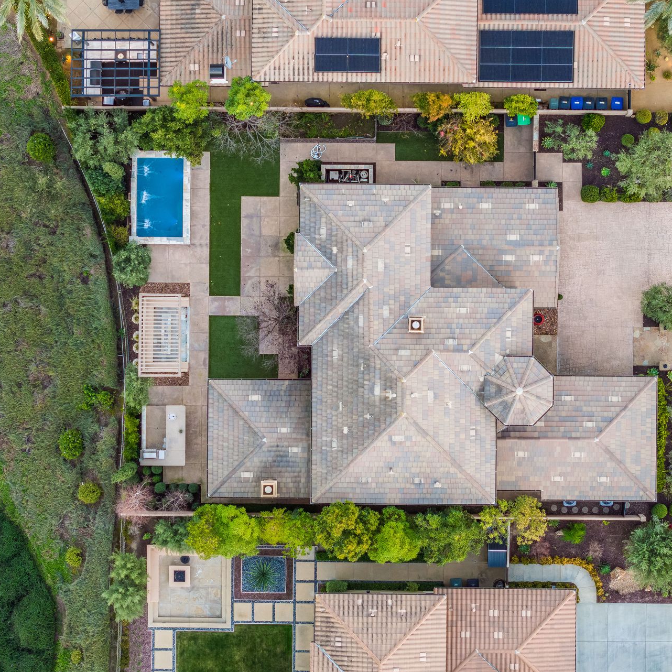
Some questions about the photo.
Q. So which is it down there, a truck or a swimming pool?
swimming pool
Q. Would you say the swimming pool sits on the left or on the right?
left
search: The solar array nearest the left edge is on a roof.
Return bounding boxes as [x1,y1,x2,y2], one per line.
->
[315,38,381,72]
